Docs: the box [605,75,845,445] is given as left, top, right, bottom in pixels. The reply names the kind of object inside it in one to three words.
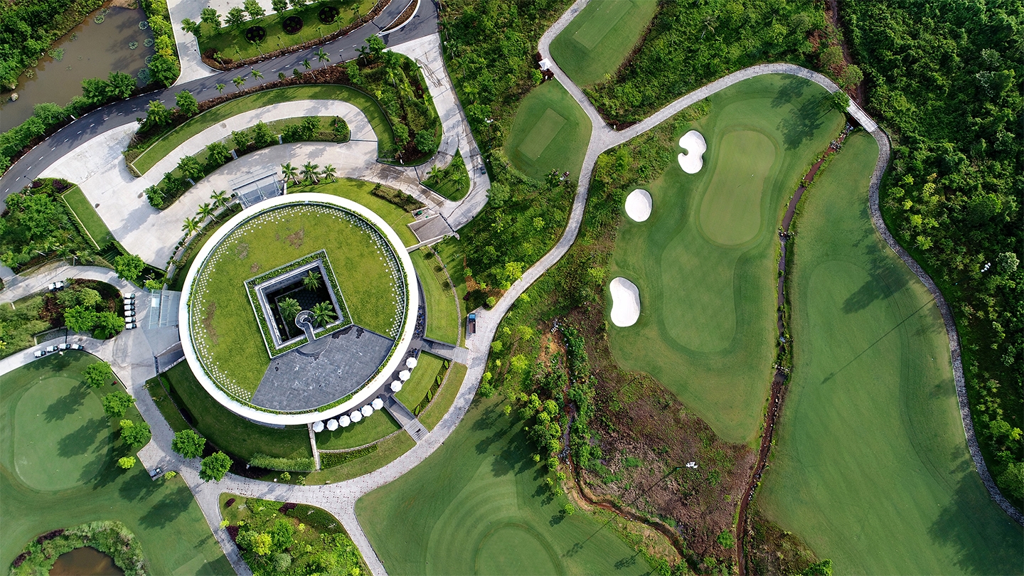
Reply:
golf course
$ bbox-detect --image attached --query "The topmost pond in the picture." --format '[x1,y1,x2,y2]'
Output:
[0,7,155,146]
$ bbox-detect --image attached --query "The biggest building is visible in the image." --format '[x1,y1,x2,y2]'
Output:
[148,165,429,431]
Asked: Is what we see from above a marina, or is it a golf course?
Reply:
golf course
